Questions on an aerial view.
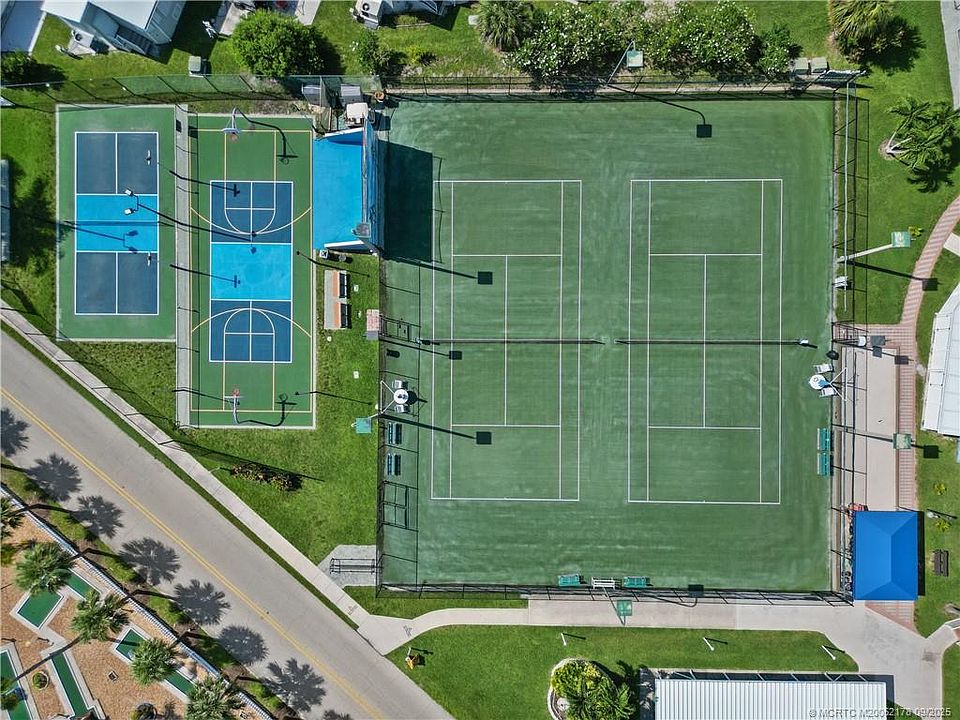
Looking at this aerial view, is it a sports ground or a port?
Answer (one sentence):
What you see here is a sports ground.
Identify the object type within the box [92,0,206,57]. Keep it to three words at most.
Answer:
house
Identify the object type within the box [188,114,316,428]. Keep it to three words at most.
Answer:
basketball court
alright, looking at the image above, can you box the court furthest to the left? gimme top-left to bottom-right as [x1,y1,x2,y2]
[56,104,176,342]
